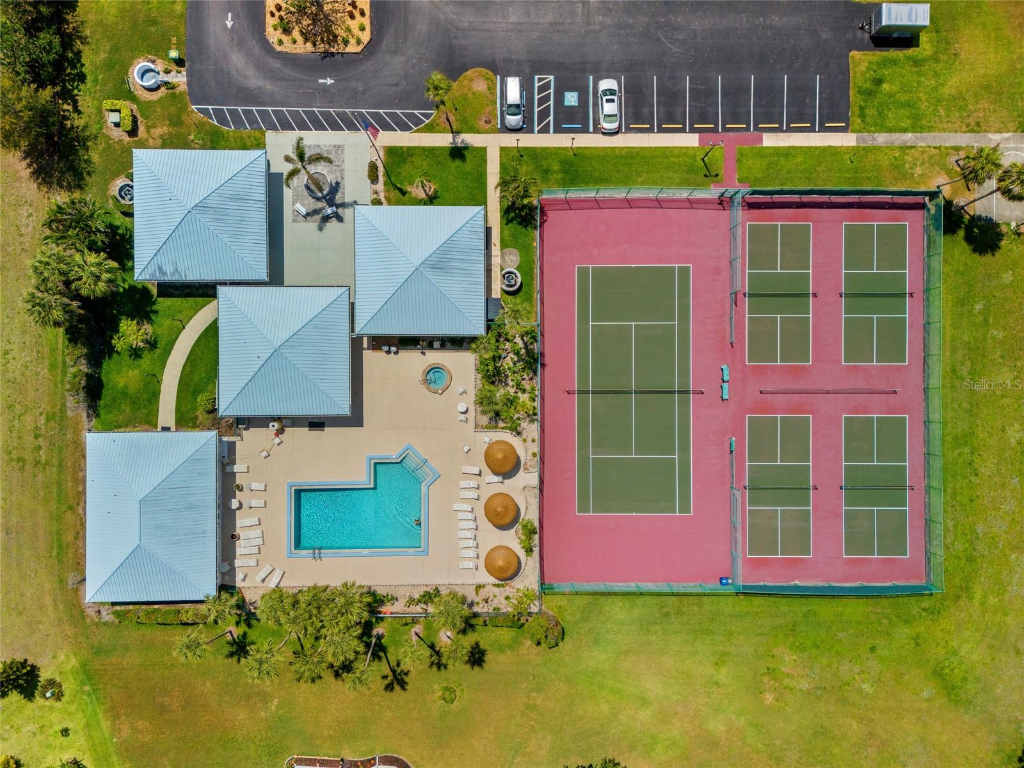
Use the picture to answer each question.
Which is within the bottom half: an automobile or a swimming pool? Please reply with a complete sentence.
The feature located within the bottom half is a swimming pool.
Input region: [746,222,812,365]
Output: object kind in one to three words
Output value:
sports court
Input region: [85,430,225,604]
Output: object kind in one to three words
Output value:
building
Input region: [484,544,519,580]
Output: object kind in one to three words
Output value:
umbrella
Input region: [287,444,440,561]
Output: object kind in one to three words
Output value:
swimming pool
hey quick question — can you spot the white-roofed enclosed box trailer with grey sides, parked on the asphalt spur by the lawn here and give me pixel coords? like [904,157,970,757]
[859,2,930,38]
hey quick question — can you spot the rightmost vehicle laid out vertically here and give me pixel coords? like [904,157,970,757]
[599,79,623,133]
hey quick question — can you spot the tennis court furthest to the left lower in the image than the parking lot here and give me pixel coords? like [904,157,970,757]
[539,197,736,583]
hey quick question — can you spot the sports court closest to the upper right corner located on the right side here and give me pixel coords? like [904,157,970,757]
[975,146,1024,222]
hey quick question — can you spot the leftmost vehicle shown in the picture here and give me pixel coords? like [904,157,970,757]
[502,75,526,130]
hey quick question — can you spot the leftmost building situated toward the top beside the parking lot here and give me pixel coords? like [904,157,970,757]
[131,149,270,283]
